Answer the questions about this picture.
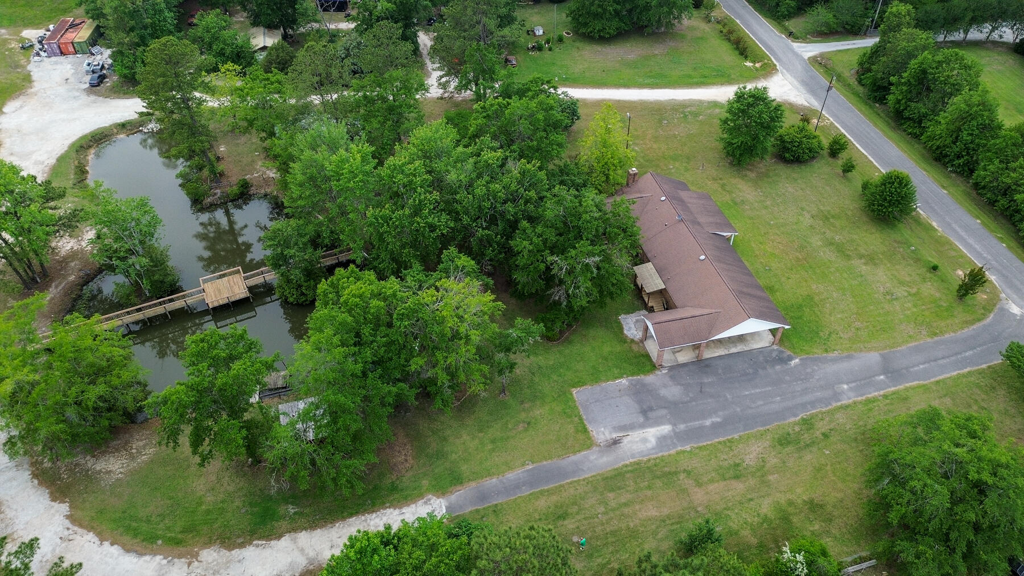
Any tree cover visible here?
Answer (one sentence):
Yes, the picture does contain tree cover.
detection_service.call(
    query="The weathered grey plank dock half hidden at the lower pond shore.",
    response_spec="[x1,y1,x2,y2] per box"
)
[258,348,294,399]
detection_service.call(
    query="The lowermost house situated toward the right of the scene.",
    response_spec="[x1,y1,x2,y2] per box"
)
[601,171,792,368]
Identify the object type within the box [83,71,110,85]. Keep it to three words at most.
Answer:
car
